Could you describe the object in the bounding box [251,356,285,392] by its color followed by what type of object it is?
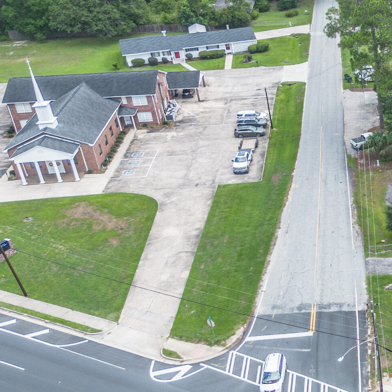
white car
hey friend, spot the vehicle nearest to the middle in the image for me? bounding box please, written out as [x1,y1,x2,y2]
[232,149,251,170]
